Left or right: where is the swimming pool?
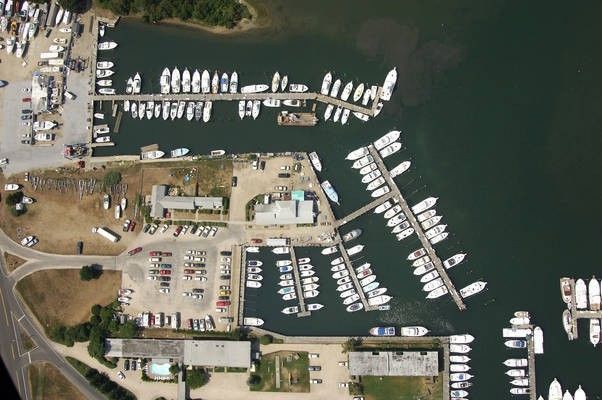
left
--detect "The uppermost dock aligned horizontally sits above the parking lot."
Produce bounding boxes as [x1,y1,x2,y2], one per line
[92,86,384,117]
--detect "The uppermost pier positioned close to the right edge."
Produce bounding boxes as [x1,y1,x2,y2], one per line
[570,279,602,339]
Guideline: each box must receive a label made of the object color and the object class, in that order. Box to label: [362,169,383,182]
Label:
white boat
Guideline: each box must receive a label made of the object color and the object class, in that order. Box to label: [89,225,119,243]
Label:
white vehicle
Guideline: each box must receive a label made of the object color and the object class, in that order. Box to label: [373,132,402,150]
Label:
white boat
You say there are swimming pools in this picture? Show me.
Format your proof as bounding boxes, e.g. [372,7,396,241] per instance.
[145,361,175,381]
